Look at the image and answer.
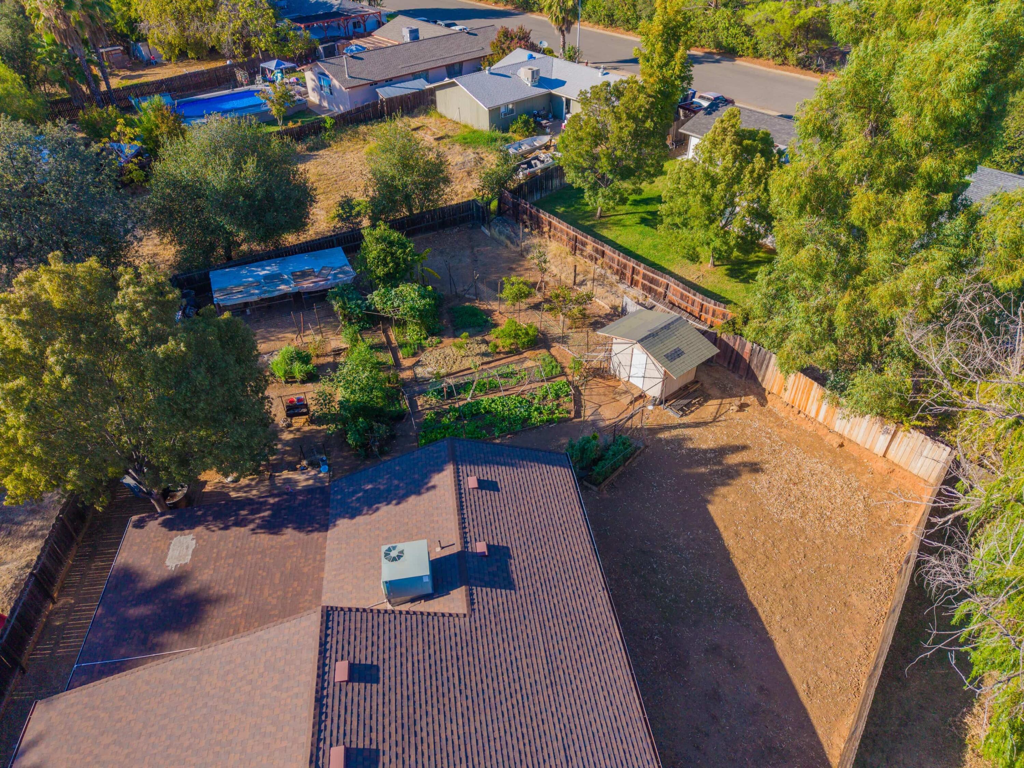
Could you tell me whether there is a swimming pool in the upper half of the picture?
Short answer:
Yes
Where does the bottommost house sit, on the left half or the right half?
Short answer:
left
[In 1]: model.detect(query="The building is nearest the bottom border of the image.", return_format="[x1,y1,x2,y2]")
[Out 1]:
[5,439,665,768]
